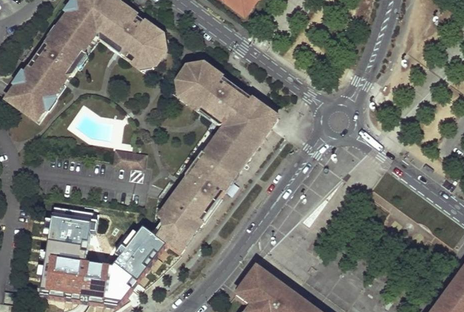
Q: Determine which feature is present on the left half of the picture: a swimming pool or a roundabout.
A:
swimming pool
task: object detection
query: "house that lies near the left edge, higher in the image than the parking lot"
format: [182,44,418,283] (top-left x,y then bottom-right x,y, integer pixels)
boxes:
[3,0,168,125]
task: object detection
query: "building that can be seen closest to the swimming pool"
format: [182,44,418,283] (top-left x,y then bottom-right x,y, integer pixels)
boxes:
[114,150,147,170]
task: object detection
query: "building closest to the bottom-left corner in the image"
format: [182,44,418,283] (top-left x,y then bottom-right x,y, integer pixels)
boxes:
[38,206,165,307]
